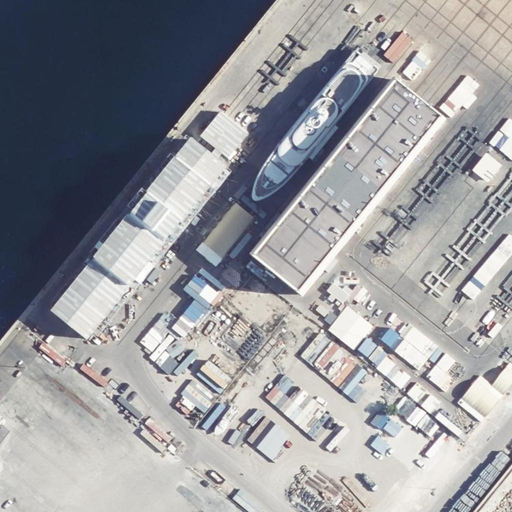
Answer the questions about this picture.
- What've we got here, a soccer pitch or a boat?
boat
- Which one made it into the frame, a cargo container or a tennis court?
cargo container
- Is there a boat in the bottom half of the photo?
Yes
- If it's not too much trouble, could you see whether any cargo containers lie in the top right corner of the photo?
No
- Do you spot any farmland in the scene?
No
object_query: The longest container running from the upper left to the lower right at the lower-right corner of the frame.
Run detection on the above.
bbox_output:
[434,412,464,438]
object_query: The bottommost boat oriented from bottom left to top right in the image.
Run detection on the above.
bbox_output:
[216,408,238,433]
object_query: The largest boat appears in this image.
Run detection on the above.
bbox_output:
[252,49,380,200]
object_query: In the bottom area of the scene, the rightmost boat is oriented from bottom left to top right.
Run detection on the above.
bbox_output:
[329,359,343,374]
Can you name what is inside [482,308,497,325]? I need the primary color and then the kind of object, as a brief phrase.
white vehicle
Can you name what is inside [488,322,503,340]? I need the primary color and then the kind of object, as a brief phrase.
white vehicle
